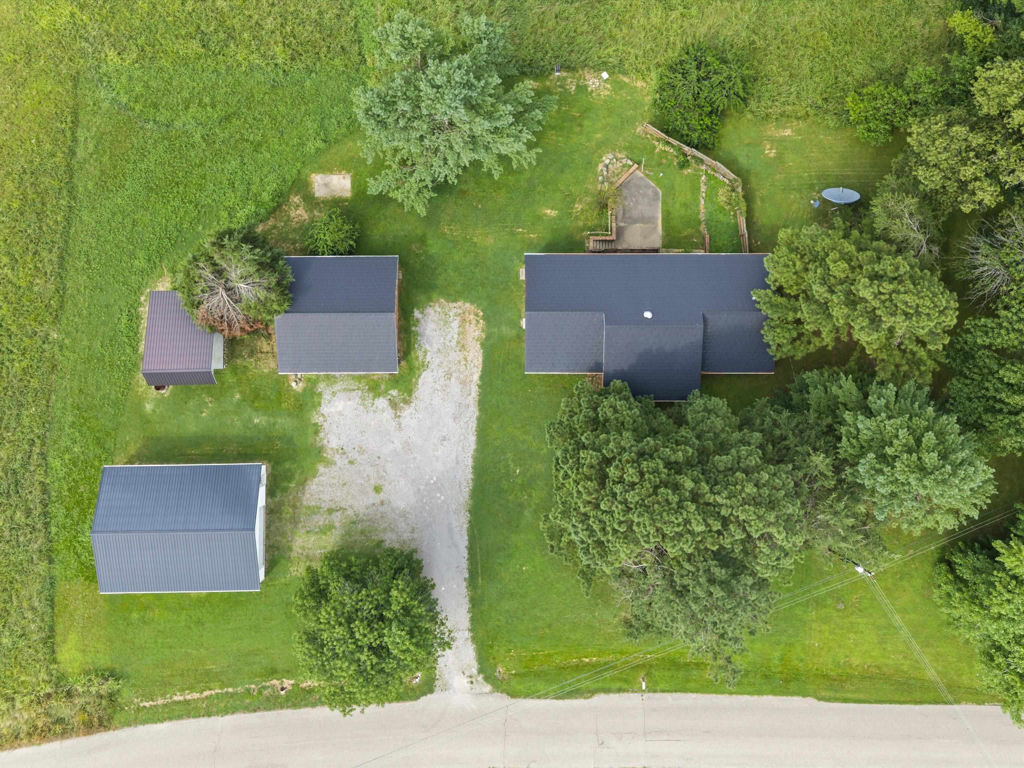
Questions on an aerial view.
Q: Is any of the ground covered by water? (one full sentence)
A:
No, no water is visible.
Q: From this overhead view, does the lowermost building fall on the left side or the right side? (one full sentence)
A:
It is on the left.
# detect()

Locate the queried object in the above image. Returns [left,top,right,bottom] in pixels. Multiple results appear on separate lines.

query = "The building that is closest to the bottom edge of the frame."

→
[90,462,269,595]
